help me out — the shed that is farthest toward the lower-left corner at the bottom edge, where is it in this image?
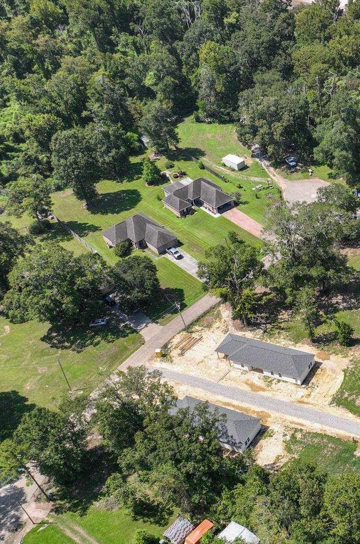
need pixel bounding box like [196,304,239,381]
[164,519,194,544]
